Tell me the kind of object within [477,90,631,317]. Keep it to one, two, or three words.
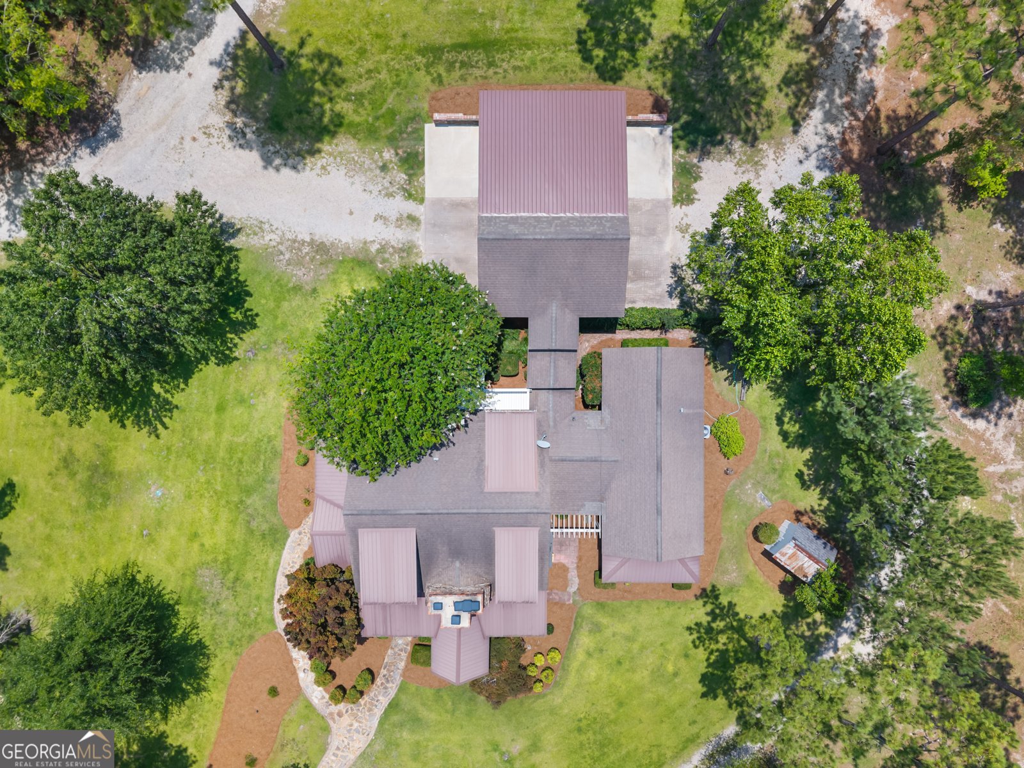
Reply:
building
